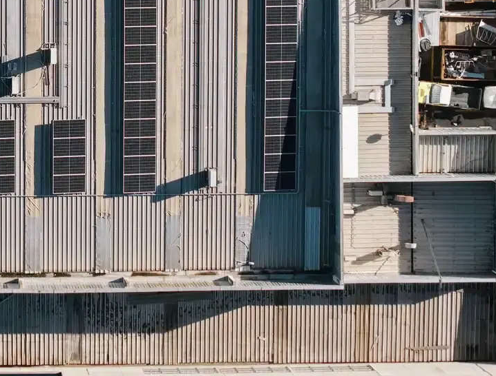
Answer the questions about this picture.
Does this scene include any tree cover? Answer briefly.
No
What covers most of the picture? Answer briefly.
buildings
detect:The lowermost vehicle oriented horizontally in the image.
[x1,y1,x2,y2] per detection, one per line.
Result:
[419,79,486,110]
